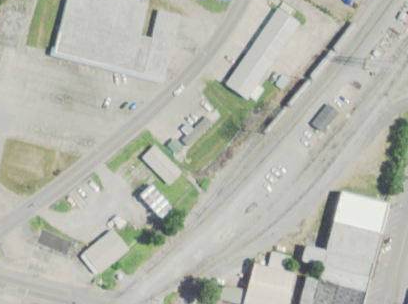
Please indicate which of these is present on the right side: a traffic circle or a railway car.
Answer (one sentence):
There is a railway car on the right side.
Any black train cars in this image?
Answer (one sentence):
No, the scene contains no black train car.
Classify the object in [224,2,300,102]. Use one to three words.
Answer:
building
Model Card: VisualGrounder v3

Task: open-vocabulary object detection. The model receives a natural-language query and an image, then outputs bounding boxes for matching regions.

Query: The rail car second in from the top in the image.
[308,52,334,80]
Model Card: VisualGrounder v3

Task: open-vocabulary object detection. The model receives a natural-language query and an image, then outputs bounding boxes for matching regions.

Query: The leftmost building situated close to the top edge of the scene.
[52,0,179,82]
